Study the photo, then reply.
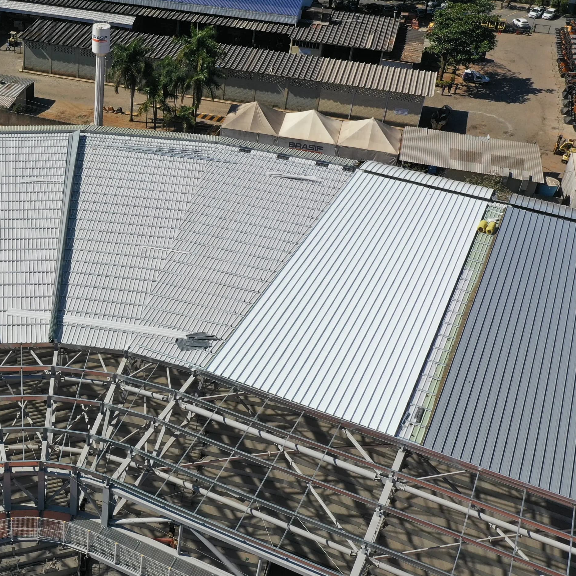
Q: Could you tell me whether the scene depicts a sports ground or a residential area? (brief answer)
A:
sports ground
